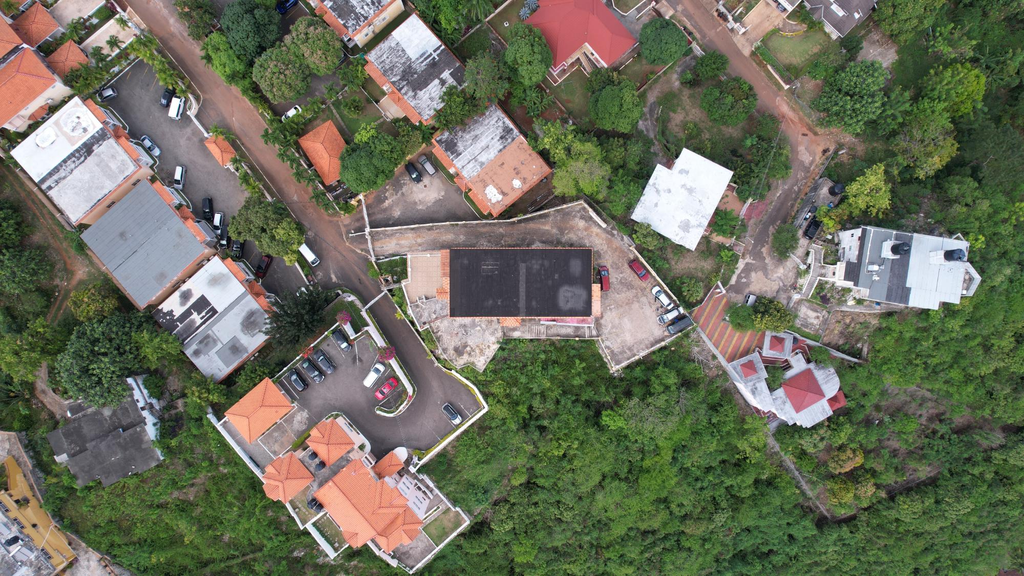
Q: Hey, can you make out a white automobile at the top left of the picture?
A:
Yes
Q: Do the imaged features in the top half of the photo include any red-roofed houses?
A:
Yes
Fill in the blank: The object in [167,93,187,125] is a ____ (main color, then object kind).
white car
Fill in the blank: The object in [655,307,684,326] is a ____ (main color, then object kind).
white car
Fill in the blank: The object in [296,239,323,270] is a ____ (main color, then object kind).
white vehicle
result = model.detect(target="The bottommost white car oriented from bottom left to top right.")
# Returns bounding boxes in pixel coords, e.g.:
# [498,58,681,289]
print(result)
[362,361,387,390]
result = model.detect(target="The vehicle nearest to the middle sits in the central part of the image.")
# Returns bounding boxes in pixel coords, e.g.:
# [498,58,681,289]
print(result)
[598,265,612,293]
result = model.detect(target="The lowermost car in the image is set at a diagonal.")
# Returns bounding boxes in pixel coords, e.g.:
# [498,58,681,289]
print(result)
[440,399,463,428]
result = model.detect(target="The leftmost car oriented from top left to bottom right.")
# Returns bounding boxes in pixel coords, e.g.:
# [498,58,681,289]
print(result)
[139,131,163,160]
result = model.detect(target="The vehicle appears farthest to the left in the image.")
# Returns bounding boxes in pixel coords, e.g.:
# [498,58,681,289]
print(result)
[94,86,123,104]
